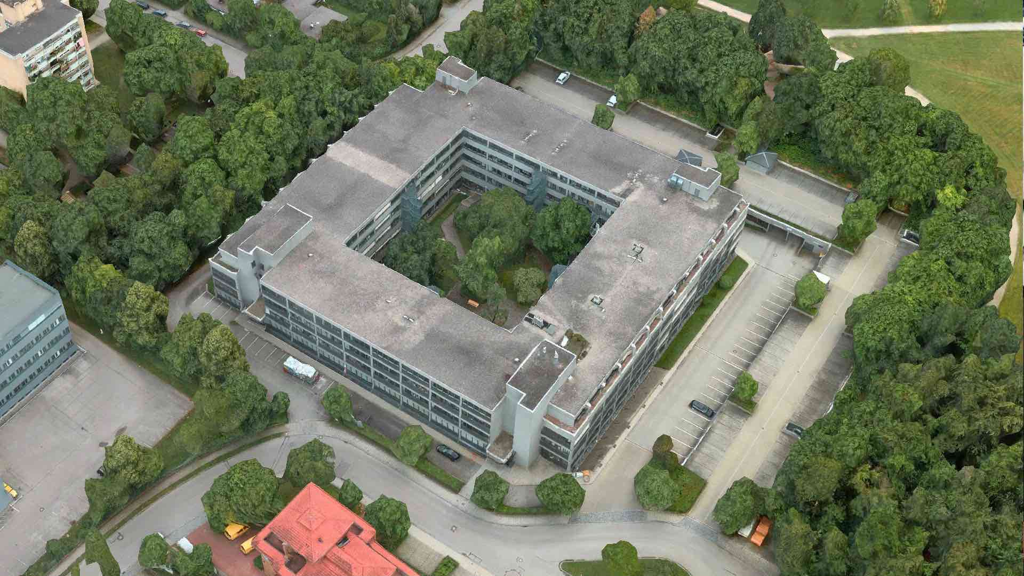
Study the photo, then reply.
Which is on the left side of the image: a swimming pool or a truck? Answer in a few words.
truck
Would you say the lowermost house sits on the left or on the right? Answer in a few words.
left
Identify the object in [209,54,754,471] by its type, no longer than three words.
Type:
building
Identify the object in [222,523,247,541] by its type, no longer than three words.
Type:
car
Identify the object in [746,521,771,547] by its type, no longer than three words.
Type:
truck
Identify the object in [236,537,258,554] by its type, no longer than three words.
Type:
car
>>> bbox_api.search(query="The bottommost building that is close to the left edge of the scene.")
[0,269,77,422]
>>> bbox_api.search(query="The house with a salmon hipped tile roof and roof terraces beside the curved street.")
[255,483,419,576]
